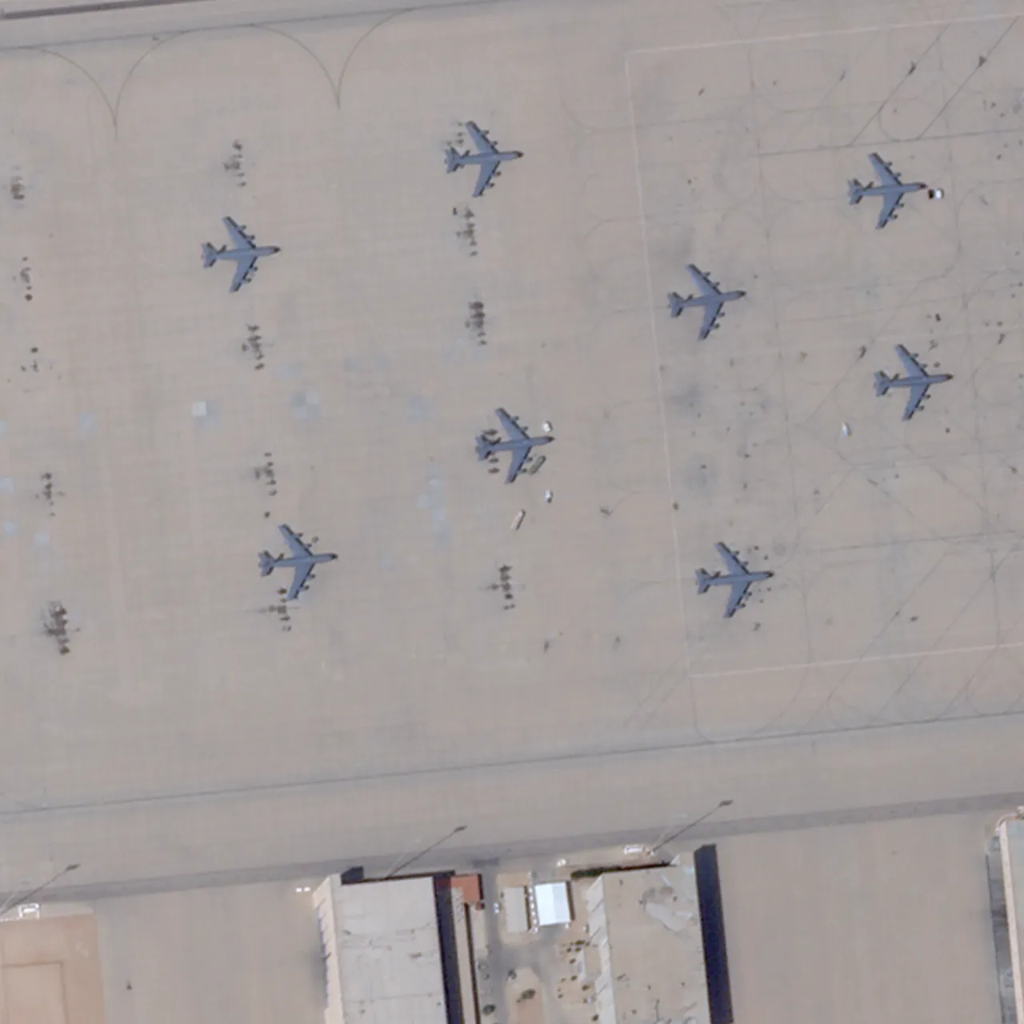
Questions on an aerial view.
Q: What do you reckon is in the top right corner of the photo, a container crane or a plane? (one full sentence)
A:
Visible in the top right corner of the photo is a plane.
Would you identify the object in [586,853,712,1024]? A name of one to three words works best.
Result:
hangar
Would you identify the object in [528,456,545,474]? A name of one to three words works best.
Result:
vehicle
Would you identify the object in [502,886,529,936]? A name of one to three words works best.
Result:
shed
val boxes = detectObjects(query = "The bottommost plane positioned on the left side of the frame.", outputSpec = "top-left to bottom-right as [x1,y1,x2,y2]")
[260,525,335,600]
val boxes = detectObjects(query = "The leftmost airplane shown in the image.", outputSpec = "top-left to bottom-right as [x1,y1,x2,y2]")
[203,217,278,292]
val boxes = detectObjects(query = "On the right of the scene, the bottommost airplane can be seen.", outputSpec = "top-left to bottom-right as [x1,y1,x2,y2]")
[696,542,771,617]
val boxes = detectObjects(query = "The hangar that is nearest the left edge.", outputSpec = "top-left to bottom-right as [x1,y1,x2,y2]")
[311,875,448,1024]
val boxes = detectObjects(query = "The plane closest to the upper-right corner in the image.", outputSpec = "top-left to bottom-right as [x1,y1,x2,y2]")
[850,154,924,229]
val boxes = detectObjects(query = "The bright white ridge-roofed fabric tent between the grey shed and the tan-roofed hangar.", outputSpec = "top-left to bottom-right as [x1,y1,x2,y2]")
[534,882,571,927]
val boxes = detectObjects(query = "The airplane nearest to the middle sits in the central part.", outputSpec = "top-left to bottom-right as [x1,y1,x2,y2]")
[476,408,551,483]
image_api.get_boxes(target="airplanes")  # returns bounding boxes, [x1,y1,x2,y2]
[850,154,924,229]
[876,345,950,420]
[446,123,520,198]
[696,542,771,617]
[669,264,744,339]
[203,217,278,292]
[260,525,335,600]
[476,408,551,483]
